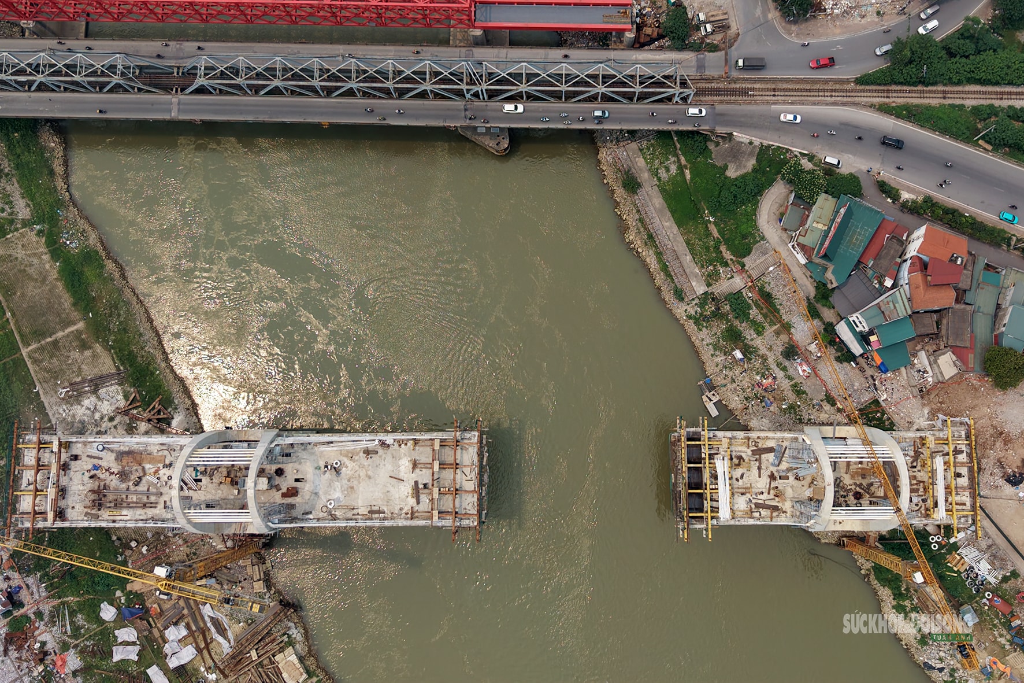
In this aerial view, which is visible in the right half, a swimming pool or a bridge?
bridge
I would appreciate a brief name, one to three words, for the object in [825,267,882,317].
house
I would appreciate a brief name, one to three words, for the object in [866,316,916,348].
house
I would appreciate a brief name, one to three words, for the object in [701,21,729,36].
vehicle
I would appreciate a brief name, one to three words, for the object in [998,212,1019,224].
vehicle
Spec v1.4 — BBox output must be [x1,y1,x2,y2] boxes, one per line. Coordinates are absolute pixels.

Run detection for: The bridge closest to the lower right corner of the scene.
[668,417,984,541]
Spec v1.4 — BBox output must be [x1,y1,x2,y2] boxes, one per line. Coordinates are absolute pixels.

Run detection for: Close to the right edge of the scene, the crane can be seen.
[772,250,981,683]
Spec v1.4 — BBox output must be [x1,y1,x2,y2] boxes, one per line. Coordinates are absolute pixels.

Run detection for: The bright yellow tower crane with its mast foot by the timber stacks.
[0,533,267,624]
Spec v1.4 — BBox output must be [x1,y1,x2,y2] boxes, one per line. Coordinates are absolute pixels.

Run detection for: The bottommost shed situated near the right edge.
[952,603,979,626]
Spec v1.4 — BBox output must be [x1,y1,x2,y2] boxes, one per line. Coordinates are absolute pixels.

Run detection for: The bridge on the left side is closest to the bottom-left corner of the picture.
[3,419,490,543]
